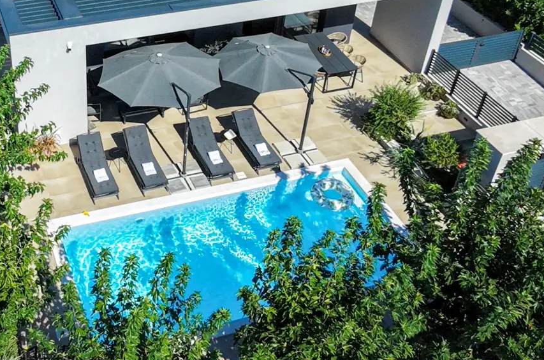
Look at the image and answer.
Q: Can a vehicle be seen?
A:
No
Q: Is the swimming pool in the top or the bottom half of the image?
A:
bottom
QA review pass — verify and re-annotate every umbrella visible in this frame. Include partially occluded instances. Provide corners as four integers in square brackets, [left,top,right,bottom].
[99,42,219,188]
[209,31,330,165]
